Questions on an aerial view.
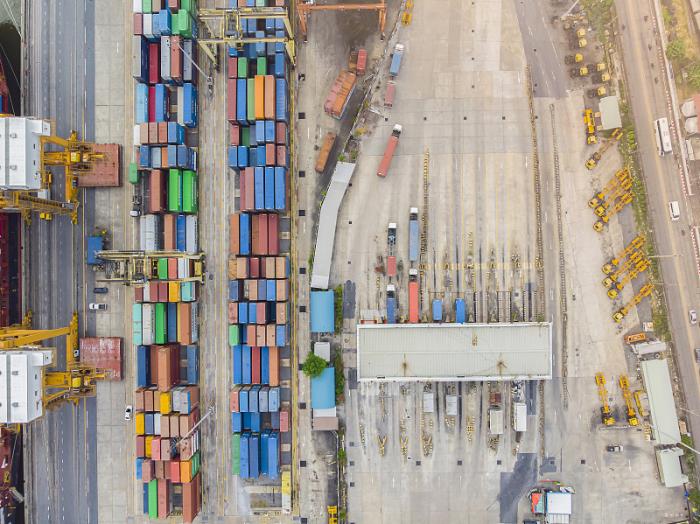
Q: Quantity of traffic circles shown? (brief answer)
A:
zero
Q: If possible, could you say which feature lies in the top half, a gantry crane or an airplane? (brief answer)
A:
gantry crane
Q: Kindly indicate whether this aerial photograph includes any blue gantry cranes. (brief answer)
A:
No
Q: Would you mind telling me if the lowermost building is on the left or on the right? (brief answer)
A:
right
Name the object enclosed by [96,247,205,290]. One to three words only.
container crane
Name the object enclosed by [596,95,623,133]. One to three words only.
shed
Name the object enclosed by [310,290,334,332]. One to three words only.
shed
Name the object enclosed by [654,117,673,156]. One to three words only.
vehicle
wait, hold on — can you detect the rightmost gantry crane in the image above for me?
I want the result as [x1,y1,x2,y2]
[292,0,390,43]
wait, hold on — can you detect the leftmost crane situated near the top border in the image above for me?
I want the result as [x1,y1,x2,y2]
[198,4,296,70]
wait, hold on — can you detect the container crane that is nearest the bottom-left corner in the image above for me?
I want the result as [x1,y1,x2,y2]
[0,316,119,430]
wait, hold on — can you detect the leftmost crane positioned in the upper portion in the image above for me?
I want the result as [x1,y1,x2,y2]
[0,108,119,223]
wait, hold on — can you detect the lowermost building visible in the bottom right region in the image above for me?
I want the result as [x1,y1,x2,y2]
[654,445,688,488]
